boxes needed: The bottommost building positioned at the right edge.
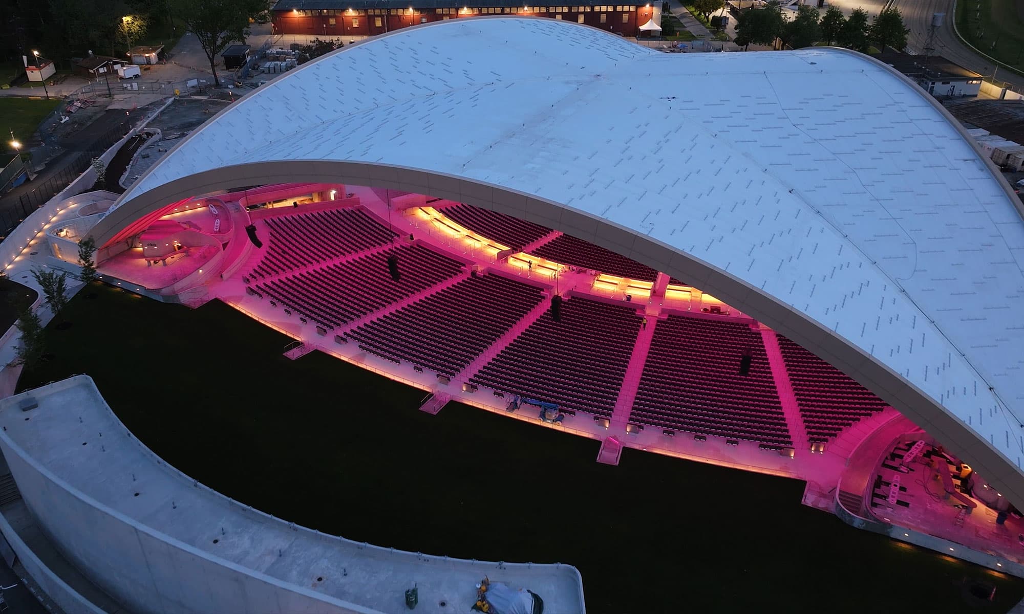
[947,99,1024,153]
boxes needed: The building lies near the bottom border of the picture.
[0,371,585,614]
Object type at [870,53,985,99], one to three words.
building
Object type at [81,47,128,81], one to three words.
building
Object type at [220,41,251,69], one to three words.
shed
